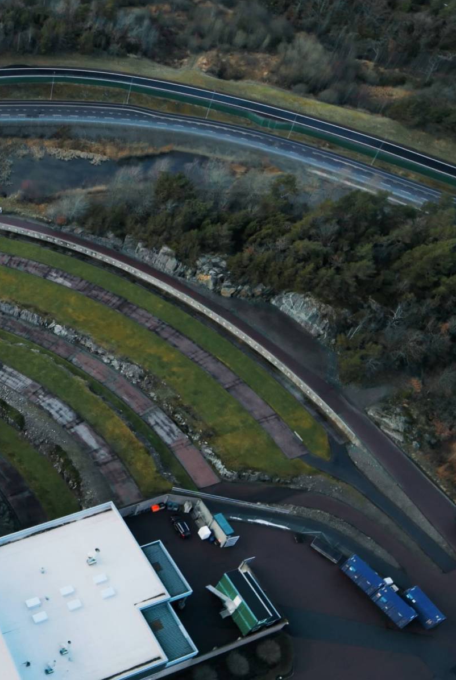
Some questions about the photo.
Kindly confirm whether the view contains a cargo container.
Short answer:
Yes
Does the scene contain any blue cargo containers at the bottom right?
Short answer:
Yes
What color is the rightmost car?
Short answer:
black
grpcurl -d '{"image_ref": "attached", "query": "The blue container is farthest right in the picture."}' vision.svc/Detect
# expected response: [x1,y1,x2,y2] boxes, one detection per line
[401,586,447,631]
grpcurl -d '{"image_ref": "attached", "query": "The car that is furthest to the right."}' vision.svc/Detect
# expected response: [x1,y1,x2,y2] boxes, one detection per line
[169,514,195,537]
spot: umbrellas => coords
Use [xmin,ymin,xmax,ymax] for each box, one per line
[197,528,210,541]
